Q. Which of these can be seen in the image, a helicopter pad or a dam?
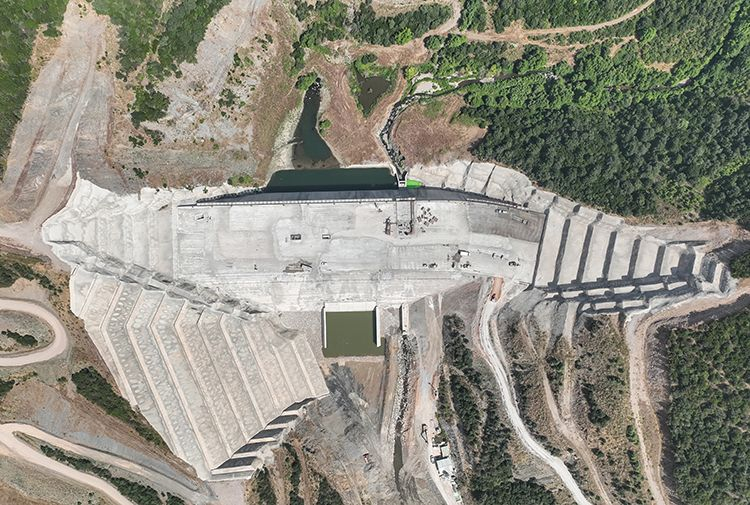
dam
